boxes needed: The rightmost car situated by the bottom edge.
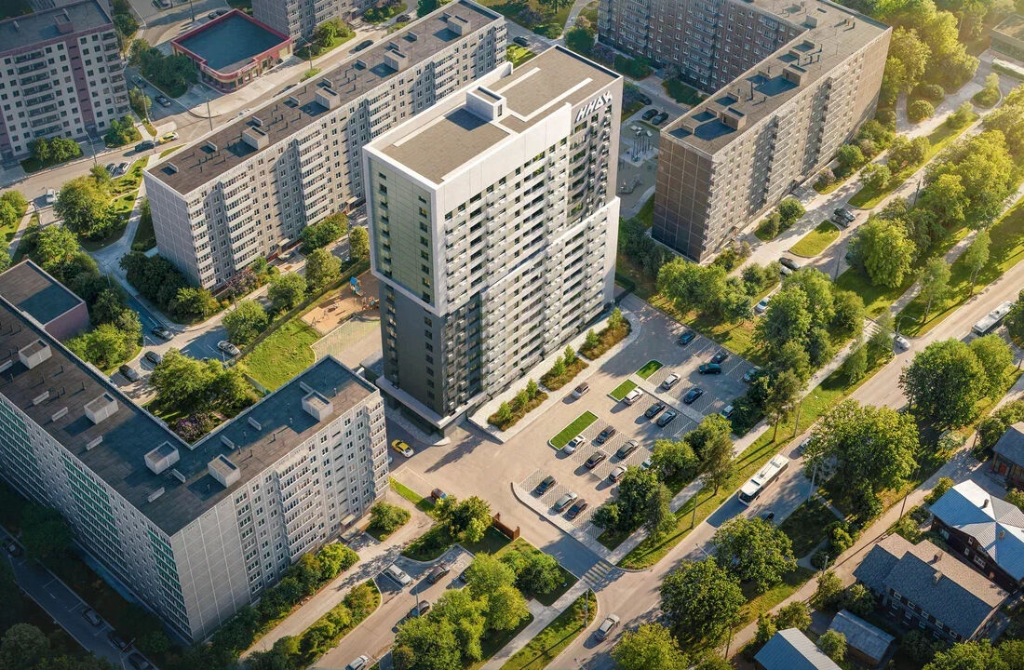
[594,614,620,639]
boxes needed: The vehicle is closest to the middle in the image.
[570,382,591,400]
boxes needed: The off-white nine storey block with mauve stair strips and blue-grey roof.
[0,2,133,164]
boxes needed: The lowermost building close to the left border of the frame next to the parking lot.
[0,296,393,643]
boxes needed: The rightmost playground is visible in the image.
[617,106,675,216]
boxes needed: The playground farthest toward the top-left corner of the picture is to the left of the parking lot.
[298,265,372,337]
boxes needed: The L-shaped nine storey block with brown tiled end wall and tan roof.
[600,0,893,255]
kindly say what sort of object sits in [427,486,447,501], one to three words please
car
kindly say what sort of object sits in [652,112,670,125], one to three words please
vehicle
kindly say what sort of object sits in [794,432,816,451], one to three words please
car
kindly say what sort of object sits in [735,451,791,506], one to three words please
bus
